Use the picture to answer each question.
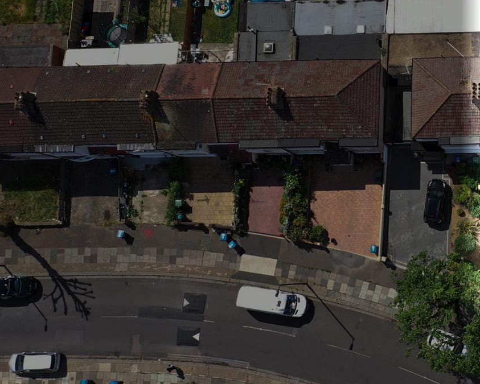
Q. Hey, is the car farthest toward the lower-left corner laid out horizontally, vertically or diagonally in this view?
horizontally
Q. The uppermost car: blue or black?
black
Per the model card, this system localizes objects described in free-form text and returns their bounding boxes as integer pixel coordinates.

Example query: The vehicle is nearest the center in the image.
[231,284,309,322]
